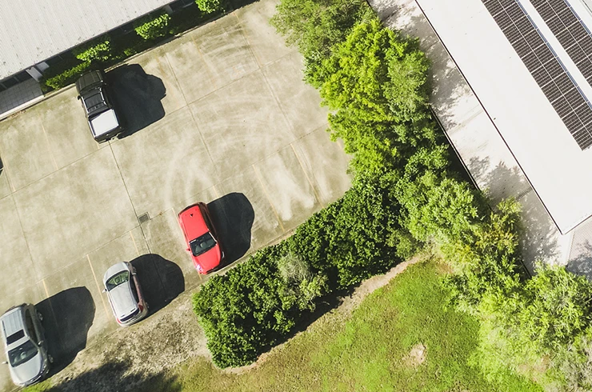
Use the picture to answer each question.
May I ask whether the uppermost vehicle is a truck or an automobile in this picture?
truck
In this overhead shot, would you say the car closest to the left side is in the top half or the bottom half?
bottom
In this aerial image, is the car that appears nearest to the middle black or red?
red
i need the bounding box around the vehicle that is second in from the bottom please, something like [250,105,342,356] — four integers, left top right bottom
[97,257,150,334]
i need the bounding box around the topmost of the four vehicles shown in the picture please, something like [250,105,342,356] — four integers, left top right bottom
[66,72,118,145]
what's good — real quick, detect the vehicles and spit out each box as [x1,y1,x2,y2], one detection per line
[66,72,118,145]
[0,300,50,390]
[97,257,150,334]
[169,201,225,276]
